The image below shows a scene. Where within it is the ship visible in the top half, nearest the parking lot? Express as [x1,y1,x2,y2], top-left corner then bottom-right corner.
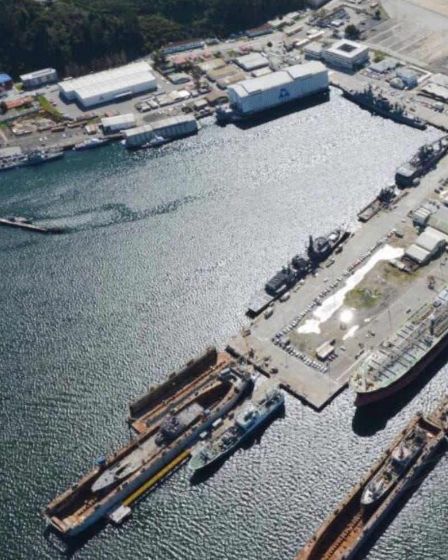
[344,86,429,134]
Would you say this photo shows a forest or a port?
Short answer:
port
